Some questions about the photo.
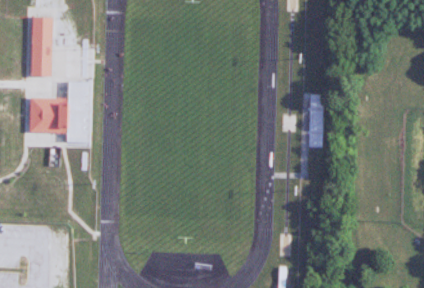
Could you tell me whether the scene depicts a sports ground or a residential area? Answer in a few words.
sports ground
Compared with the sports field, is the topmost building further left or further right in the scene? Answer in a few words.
on the left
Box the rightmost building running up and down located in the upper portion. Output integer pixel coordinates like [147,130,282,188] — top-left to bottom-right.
[66,82,89,144]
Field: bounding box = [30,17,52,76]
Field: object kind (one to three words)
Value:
building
